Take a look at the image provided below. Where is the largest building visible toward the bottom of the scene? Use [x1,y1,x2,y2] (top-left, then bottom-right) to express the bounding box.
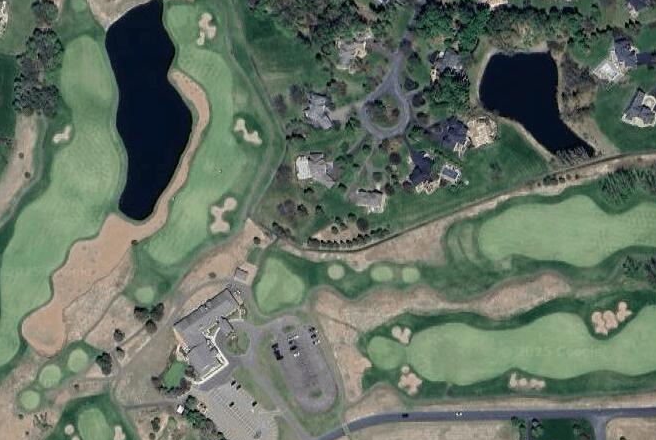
[175,288,243,384]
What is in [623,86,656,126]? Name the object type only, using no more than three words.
house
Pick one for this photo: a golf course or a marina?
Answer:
golf course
